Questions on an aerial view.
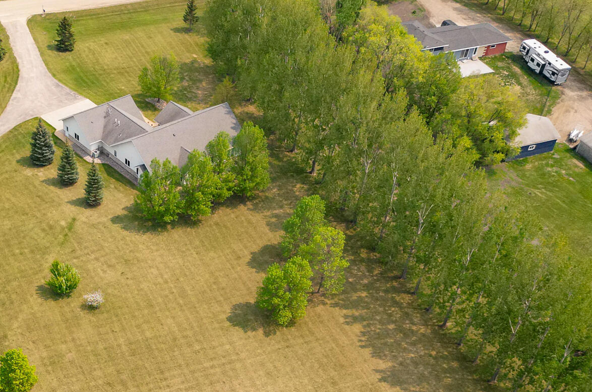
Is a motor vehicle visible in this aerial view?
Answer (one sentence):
Yes, you can see a motor vehicle in this photo.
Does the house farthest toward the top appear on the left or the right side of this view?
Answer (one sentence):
The house farthest toward the top is on the right side of the image.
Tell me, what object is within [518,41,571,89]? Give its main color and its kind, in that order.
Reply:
white vehicle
